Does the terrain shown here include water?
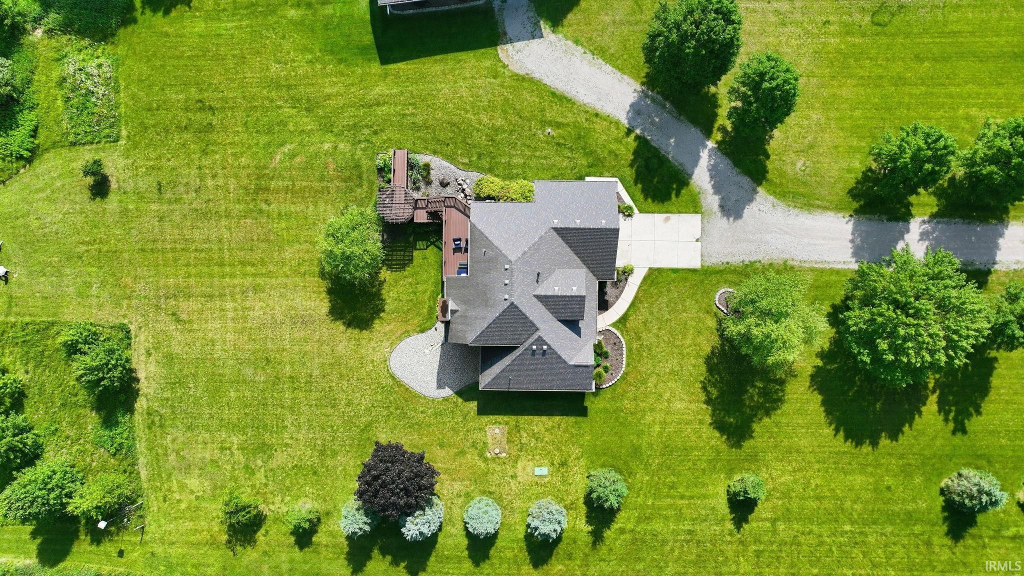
No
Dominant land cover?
grass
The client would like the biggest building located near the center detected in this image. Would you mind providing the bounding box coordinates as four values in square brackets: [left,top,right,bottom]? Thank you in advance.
[437,179,622,392]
